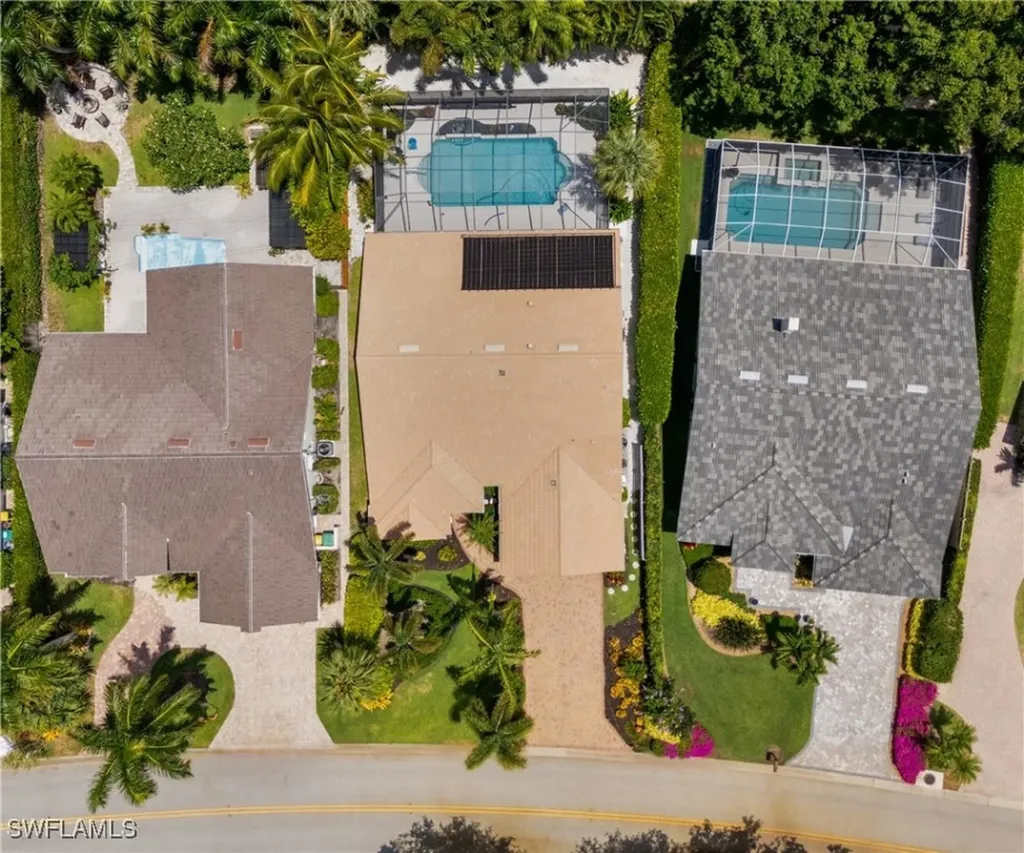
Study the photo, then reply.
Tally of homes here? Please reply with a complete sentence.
There are 3 homes in the image.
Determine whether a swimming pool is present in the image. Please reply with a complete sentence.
Yes, there's a swimming pool down there.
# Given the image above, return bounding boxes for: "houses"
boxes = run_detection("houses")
[674,248,982,600]
[356,230,623,577]
[12,263,323,631]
